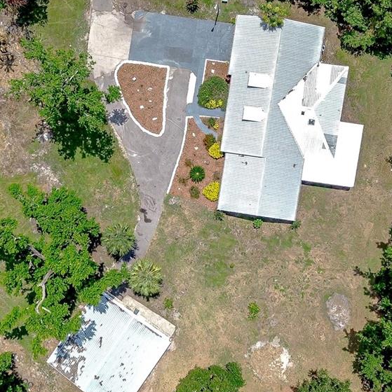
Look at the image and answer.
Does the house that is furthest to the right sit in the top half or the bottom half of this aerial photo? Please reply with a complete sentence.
The top half of the photo is where the house that is furthest to the right is.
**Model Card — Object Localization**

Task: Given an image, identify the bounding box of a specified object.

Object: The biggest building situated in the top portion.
[218,14,364,222]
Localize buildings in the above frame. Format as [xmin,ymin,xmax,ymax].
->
[218,14,364,222]
[47,291,173,392]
